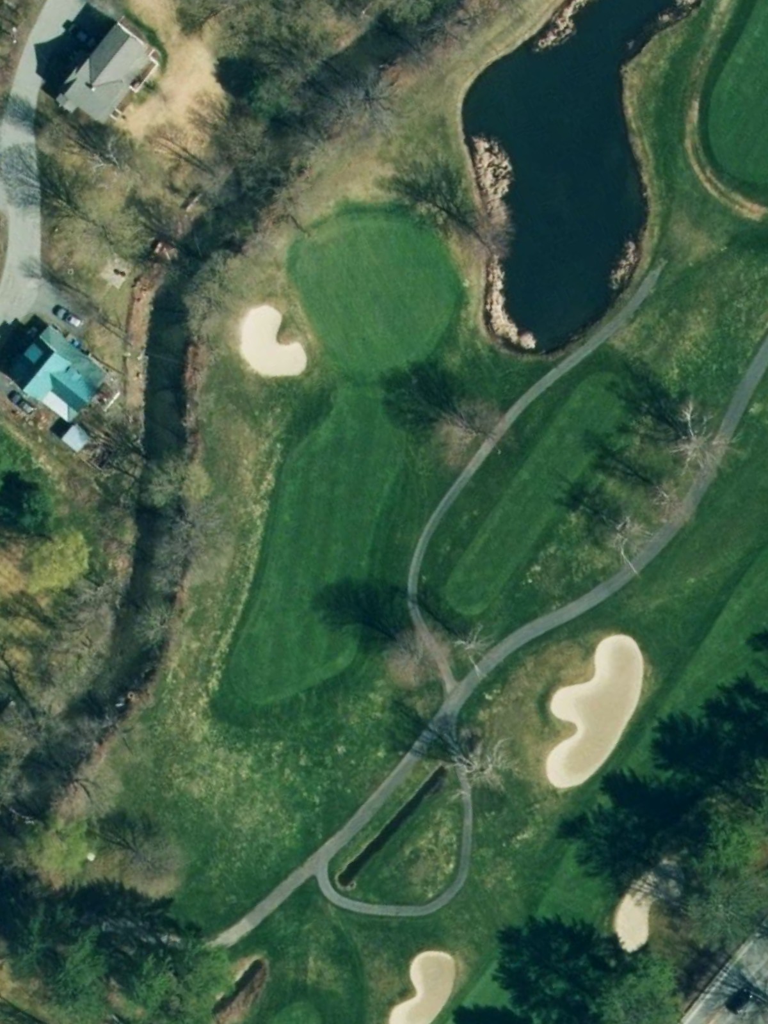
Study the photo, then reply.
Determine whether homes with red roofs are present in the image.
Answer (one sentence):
No, no home with a red roof can be seen from above.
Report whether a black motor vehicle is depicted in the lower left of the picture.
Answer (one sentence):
No, no black motor vehicle can be made out in the lower left of the picture.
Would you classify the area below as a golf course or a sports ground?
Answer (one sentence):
This image shows a golf course.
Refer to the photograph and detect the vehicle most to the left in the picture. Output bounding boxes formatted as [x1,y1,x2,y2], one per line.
[5,389,37,415]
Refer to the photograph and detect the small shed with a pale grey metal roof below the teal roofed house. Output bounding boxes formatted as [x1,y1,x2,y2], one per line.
[61,424,89,453]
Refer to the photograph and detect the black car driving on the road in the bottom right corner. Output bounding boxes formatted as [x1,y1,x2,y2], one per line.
[727,986,755,1016]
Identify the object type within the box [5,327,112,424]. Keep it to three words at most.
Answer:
house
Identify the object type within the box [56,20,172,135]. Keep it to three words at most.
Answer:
house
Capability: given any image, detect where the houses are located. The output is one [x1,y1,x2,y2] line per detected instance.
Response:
[5,327,112,424]
[56,20,172,135]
